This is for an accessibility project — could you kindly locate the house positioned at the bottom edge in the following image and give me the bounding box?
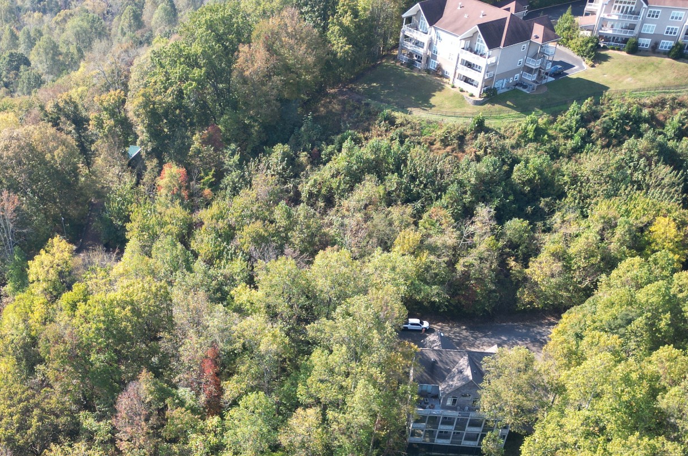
[408,326,509,456]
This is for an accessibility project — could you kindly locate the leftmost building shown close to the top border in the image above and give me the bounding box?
[399,0,572,96]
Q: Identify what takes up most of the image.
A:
trees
